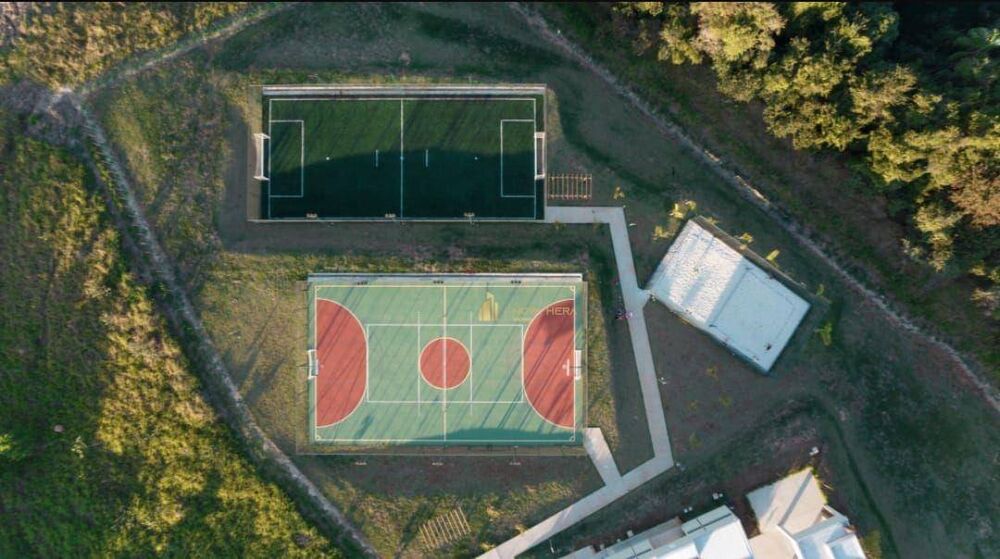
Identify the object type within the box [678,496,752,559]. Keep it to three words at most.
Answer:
house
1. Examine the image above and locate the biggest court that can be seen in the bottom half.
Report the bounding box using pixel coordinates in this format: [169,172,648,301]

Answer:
[307,282,588,452]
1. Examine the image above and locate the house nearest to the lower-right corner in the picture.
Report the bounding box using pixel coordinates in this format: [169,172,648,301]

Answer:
[771,504,863,559]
